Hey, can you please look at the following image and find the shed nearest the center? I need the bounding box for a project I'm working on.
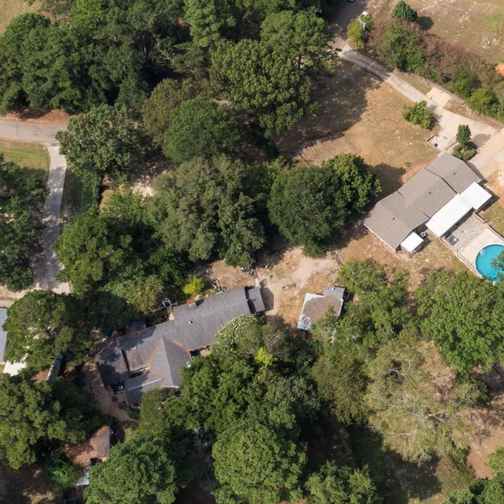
[247,286,267,319]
